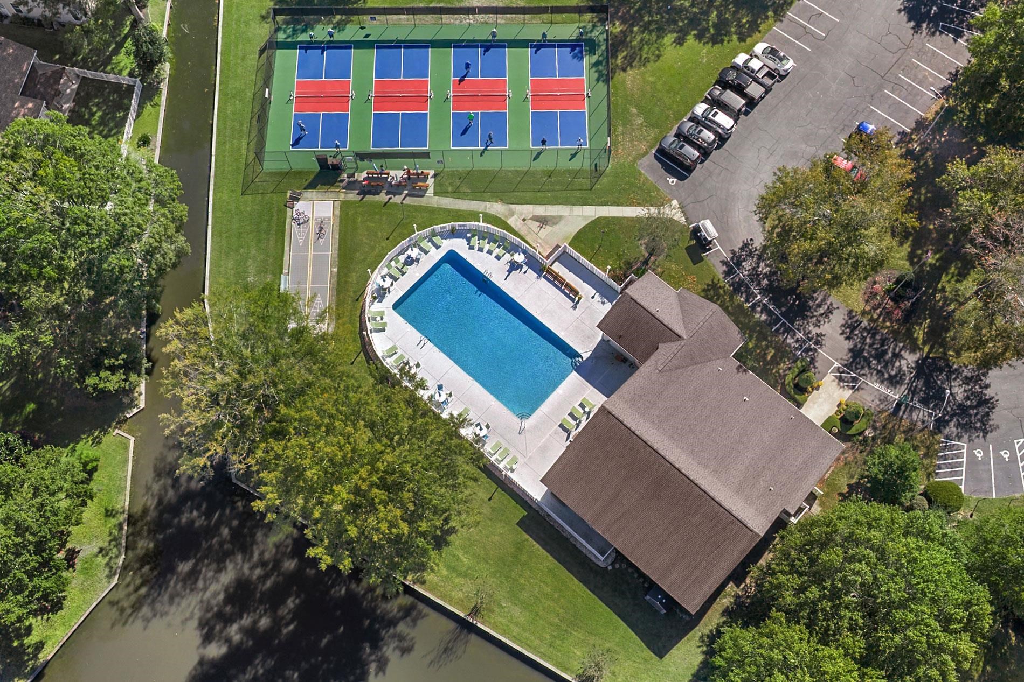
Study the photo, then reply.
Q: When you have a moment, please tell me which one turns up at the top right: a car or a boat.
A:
car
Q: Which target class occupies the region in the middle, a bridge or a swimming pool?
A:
swimming pool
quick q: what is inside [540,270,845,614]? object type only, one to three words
building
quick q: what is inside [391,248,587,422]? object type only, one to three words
swimming pool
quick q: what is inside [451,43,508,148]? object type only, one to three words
sports court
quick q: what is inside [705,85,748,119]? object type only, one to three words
car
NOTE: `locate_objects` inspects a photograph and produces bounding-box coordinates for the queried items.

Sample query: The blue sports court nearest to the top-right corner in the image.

[529,42,588,147]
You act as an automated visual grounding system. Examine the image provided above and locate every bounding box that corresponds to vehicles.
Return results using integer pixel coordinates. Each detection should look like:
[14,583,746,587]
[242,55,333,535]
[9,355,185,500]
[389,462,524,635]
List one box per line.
[696,219,719,247]
[657,134,701,169]
[688,101,733,137]
[732,51,782,91]
[848,120,882,153]
[705,85,748,119]
[673,118,717,153]
[719,67,770,108]
[749,39,794,74]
